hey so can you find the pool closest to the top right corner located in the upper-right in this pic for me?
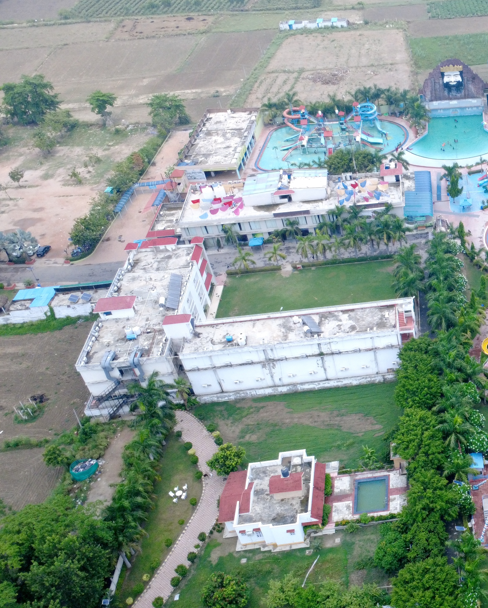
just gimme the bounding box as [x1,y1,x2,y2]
[400,112,488,168]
